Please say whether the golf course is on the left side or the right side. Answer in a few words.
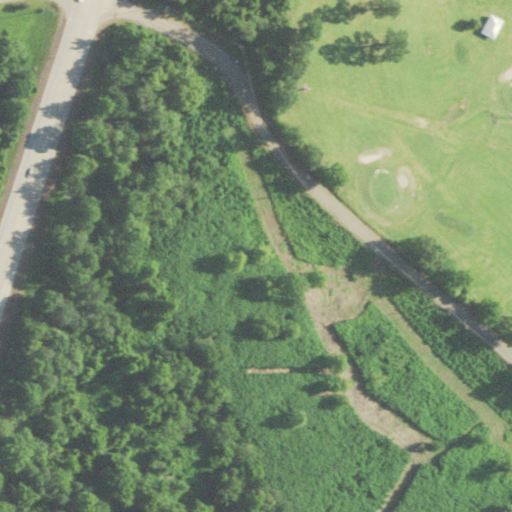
right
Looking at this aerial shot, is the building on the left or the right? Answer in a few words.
right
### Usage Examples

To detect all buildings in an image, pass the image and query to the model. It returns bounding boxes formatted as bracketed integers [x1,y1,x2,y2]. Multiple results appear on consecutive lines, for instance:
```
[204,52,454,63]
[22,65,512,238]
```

[482,14,505,39]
